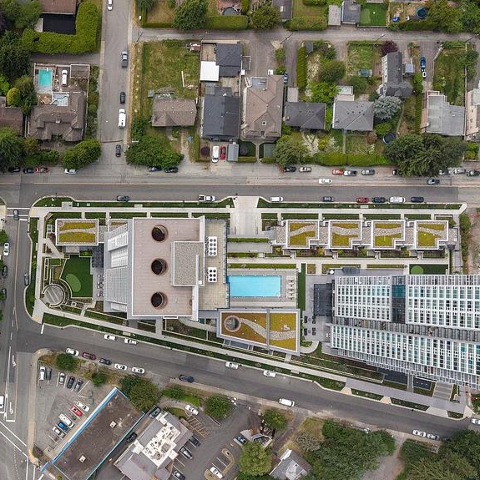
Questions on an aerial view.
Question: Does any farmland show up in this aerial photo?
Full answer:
No, the scene doesn't show any farmland.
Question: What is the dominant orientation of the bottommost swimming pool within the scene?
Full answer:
The bottommost swimming pool is laid out from left to right.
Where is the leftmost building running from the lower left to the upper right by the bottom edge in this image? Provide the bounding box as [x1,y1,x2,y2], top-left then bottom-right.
[41,387,144,480]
